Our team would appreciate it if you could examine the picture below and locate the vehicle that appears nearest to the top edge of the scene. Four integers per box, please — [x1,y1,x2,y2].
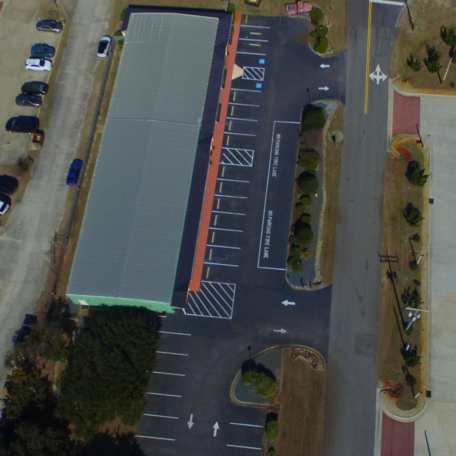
[284,0,313,15]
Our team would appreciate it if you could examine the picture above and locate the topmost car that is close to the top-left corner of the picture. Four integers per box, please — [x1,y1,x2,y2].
[35,20,63,35]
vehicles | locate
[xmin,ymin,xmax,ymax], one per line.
[284,0,313,15]
[28,42,58,59]
[66,157,86,186]
[12,94,43,109]
[35,20,63,35]
[0,200,10,215]
[24,55,53,72]
[96,36,113,59]
[0,177,23,193]
[19,80,50,95]
[7,115,40,132]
